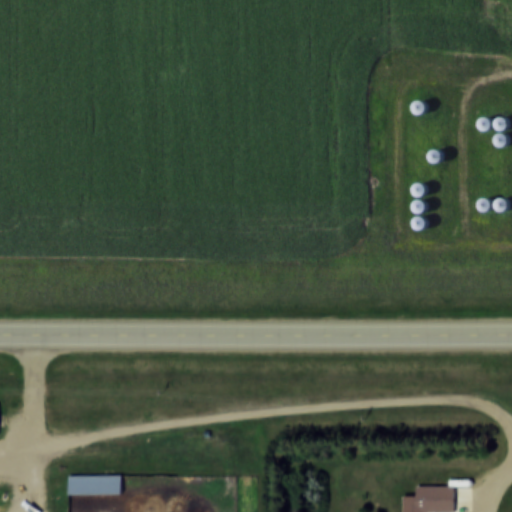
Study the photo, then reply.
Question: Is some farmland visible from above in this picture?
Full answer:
Yes, farmland can be seen from above here.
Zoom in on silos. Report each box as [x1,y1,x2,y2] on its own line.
[410,198,430,214]
[492,132,512,148]
[493,116,512,132]
[493,197,512,212]
[410,100,430,116]
[476,197,494,212]
[410,182,430,198]
[476,116,495,132]
[410,216,430,231]
[427,148,446,164]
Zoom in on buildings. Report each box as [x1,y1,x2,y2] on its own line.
[68,476,123,496]
[403,487,455,512]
